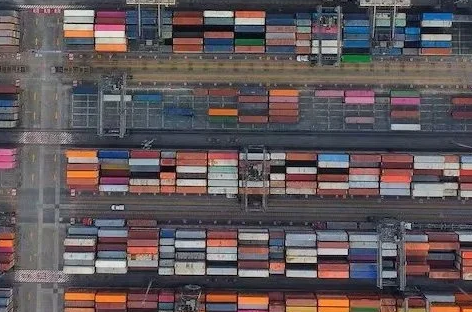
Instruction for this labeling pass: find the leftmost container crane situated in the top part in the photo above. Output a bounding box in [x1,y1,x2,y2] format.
[97,71,135,138]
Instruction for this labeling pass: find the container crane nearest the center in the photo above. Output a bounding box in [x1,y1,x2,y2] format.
[236,140,267,212]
